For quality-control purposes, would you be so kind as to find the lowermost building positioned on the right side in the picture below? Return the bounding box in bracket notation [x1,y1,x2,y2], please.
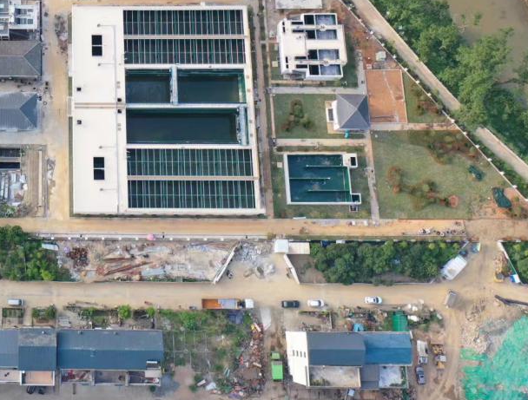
[287,330,416,388]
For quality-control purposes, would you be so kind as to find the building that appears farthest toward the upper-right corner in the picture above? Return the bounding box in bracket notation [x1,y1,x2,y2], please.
[326,95,370,134]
